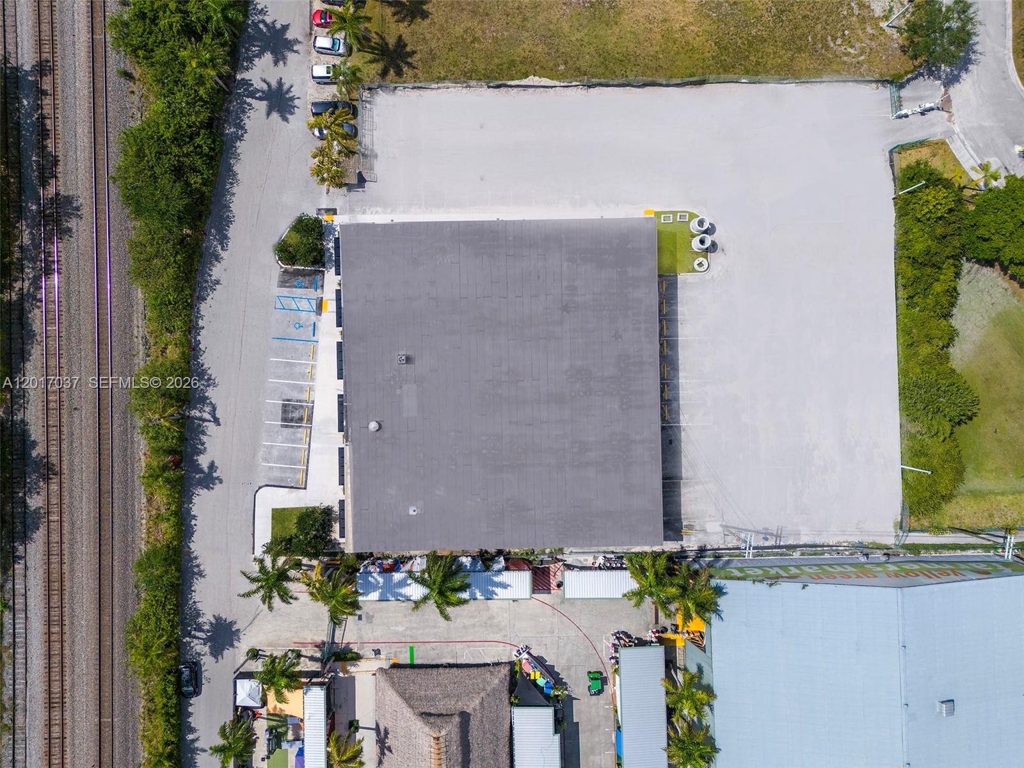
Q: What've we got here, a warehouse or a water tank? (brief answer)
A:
warehouse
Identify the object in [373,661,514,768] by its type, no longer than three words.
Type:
building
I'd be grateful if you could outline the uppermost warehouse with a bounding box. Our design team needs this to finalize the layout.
[334,215,664,552]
